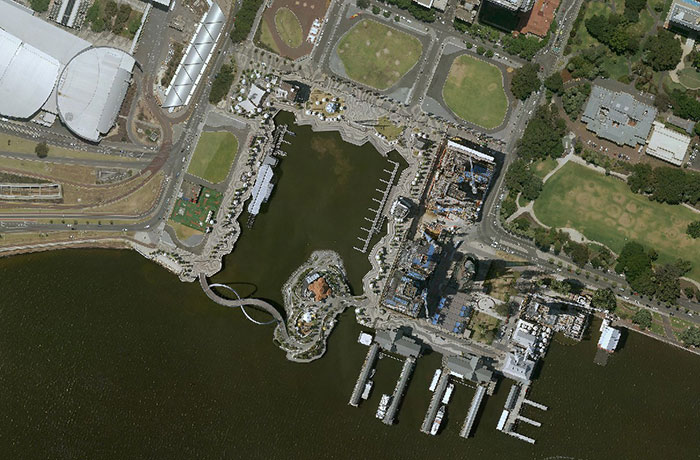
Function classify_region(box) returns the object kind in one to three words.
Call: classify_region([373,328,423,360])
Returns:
building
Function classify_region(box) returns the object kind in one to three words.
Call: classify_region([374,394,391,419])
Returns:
boat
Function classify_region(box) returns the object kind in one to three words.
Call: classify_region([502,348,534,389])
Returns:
house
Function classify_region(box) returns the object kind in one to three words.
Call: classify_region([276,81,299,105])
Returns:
building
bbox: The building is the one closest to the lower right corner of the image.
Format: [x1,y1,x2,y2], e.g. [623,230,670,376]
[597,319,623,353]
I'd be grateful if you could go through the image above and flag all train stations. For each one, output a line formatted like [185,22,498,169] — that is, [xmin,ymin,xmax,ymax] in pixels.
[163,0,225,114]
